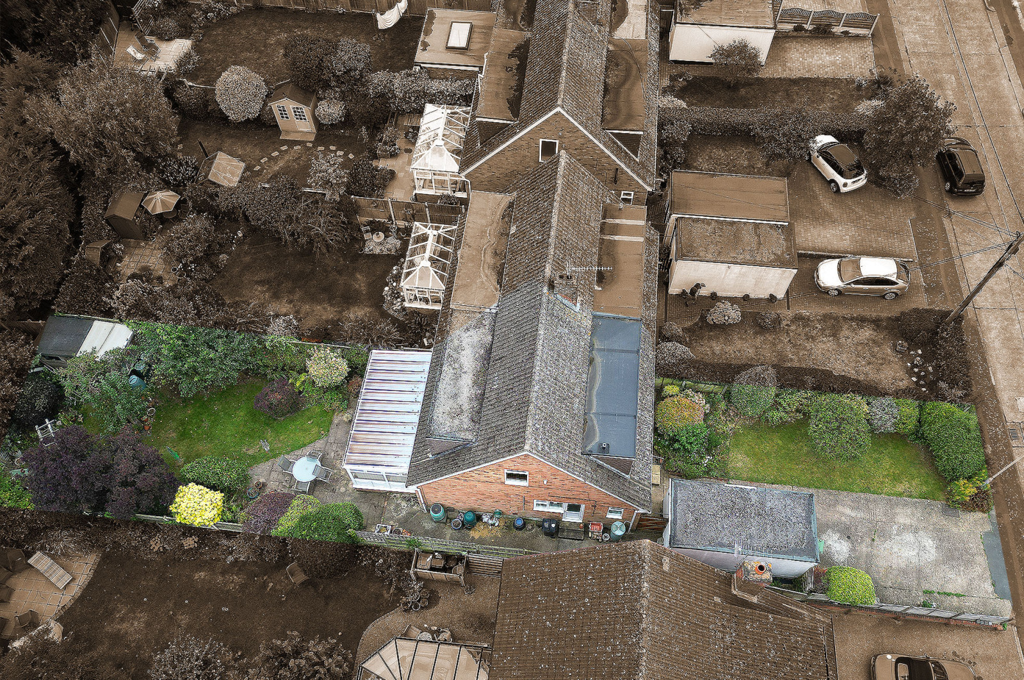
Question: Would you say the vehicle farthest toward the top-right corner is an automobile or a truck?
automobile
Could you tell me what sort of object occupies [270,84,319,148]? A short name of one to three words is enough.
shed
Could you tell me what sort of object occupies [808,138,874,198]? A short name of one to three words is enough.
car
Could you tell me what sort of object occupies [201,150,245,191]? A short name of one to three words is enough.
greenhouse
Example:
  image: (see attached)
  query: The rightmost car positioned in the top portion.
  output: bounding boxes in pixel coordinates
[939,139,990,204]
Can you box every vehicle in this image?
[814,254,914,305]
[939,139,990,204]
[808,138,874,198]
[864,647,985,680]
